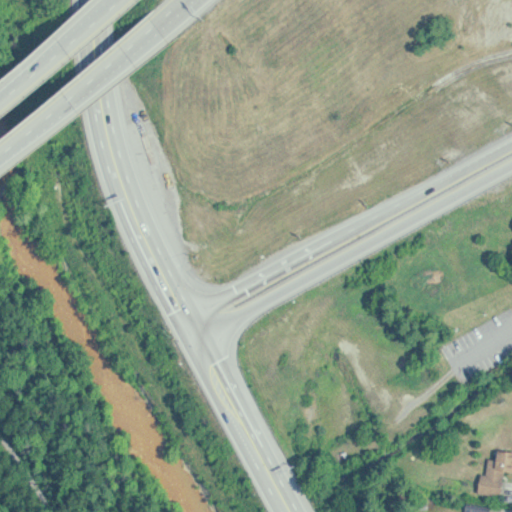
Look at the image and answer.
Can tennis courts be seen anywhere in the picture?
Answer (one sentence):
No, the scene contains no tennis court.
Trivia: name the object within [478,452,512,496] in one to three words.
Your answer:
house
